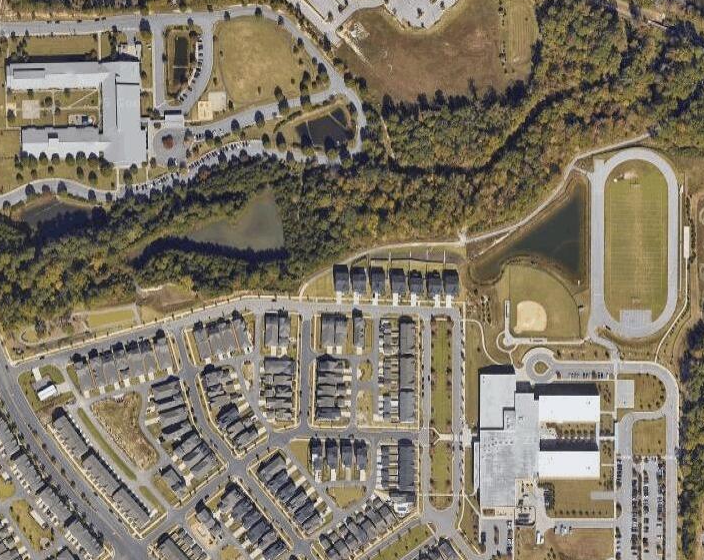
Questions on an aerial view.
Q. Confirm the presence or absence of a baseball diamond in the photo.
Yes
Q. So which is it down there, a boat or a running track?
running track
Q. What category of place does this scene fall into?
residential area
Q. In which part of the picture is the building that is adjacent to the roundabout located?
bottom right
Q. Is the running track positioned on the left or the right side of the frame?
right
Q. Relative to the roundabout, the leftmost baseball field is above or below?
above it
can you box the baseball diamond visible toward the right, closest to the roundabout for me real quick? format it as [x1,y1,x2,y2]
[510,263,581,338]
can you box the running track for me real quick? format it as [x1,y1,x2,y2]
[590,148,679,337]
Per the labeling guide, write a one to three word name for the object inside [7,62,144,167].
building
